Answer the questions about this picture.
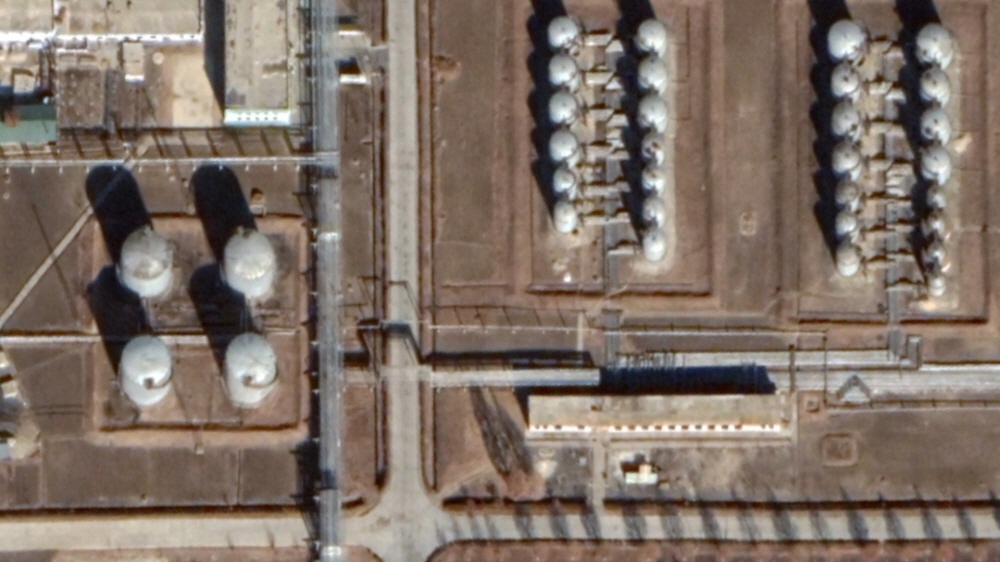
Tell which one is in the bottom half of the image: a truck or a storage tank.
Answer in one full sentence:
Looking in the bottom half of the image, you will find a storage tank.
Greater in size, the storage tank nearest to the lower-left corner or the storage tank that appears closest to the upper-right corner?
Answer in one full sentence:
The larger object is the storage tank nearest to the lower-left corner, with the storage tank that appears closest to the upper-right corner being the smaller of the pair.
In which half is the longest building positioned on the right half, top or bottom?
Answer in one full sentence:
The bottom half of the photo is where the longest building positioned on the right half is.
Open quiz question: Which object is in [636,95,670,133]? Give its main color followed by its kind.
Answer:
white storage tank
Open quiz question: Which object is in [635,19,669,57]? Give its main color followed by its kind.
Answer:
white storage tank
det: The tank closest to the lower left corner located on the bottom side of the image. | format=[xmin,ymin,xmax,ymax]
[119,337,176,406]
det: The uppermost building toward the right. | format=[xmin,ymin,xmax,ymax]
[527,395,790,434]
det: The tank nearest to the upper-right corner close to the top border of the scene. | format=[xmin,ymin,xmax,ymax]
[914,22,955,67]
